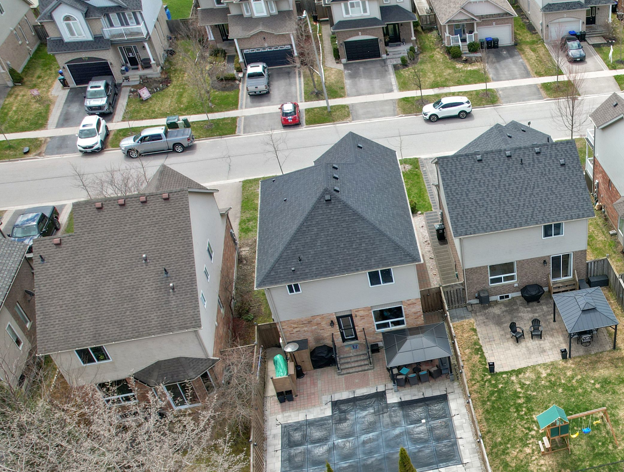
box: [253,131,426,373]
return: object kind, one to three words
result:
house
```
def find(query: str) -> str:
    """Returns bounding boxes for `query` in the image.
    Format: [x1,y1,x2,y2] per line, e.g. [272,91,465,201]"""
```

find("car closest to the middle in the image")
[276,98,302,123]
